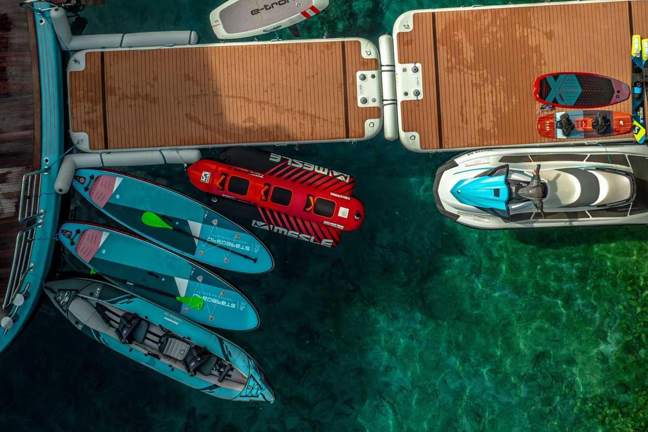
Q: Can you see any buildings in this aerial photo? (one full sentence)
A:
No, the scene contains no building.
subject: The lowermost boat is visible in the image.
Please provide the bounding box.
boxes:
[44,277,276,403]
